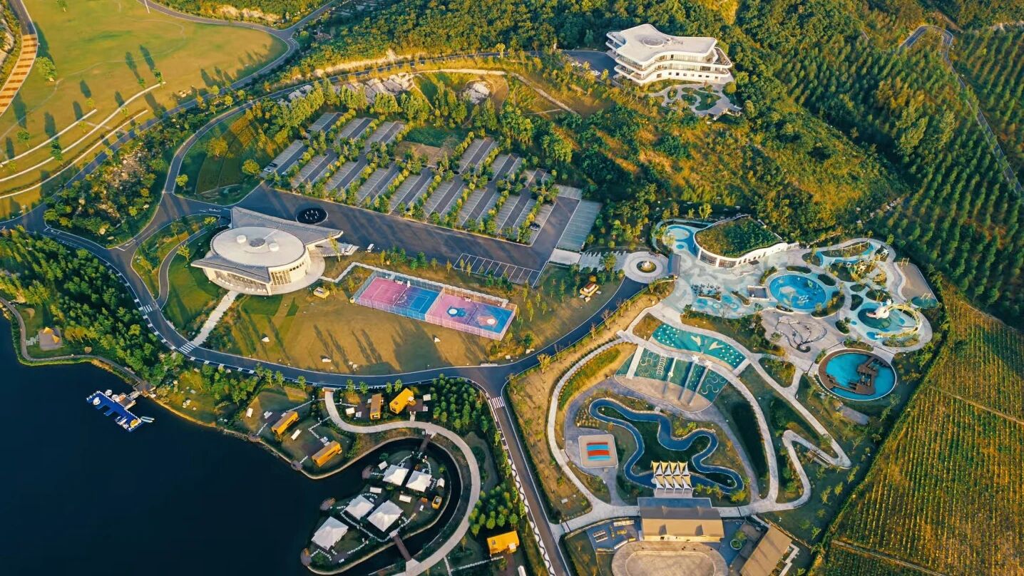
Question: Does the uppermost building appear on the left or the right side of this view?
right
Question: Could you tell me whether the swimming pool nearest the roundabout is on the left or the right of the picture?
right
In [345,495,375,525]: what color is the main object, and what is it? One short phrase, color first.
white tent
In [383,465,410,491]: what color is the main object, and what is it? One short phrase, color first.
white tent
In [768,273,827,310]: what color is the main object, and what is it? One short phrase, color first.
blue swimming pool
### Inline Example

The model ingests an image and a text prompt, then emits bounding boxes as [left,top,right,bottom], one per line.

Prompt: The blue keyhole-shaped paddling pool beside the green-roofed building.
[664,223,698,258]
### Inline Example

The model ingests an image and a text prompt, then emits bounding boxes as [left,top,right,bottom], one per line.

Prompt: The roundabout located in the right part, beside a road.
[623,252,670,283]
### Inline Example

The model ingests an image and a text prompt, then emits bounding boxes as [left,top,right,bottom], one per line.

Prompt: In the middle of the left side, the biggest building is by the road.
[191,206,359,297]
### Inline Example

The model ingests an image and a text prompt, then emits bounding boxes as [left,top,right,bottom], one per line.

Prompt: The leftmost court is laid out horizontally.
[355,277,440,320]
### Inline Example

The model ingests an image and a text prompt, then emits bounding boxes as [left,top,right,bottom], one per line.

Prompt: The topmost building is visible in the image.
[605,24,732,85]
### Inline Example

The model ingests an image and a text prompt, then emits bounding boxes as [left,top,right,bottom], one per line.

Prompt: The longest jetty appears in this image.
[87,391,142,433]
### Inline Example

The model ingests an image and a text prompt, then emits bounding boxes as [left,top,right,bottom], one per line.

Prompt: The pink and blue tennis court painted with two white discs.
[424,292,515,340]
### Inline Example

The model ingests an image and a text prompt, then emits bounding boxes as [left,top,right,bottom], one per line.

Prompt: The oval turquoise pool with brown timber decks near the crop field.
[818,347,898,401]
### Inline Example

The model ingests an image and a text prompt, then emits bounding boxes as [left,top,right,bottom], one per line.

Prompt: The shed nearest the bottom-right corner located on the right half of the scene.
[738,526,791,576]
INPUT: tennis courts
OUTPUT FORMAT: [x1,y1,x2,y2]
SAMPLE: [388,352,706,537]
[424,292,515,340]
[355,277,440,320]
